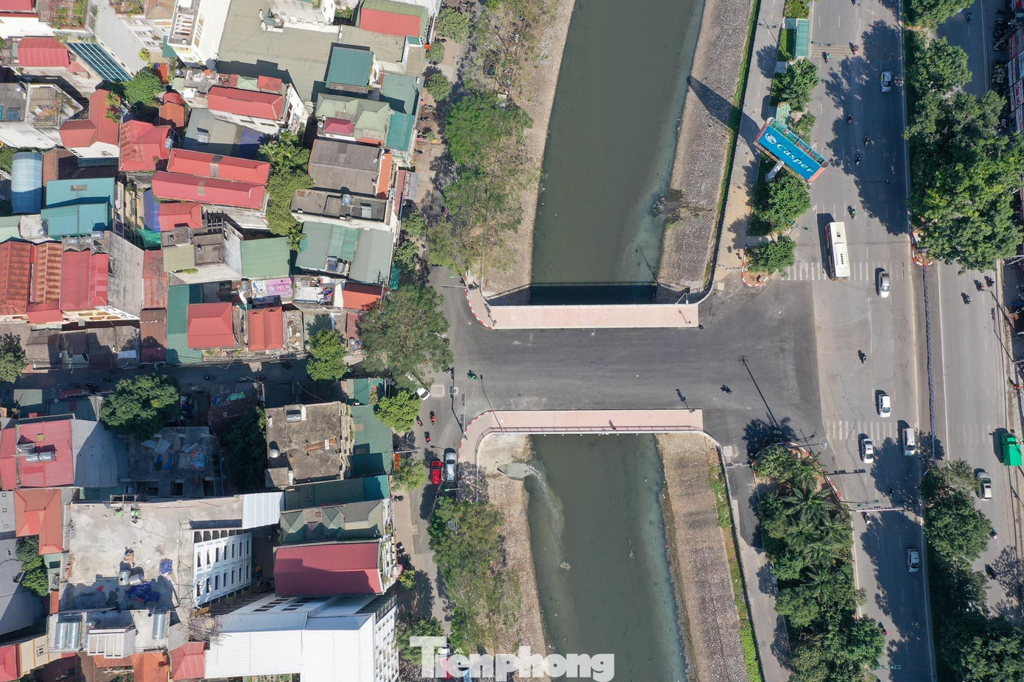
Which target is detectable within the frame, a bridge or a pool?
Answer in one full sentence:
It is a bridge that can be seen here.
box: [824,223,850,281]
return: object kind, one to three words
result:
bus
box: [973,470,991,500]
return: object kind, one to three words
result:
car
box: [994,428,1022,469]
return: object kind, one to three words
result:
truck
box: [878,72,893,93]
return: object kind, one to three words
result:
car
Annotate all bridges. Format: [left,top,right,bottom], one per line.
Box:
[459,272,725,509]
